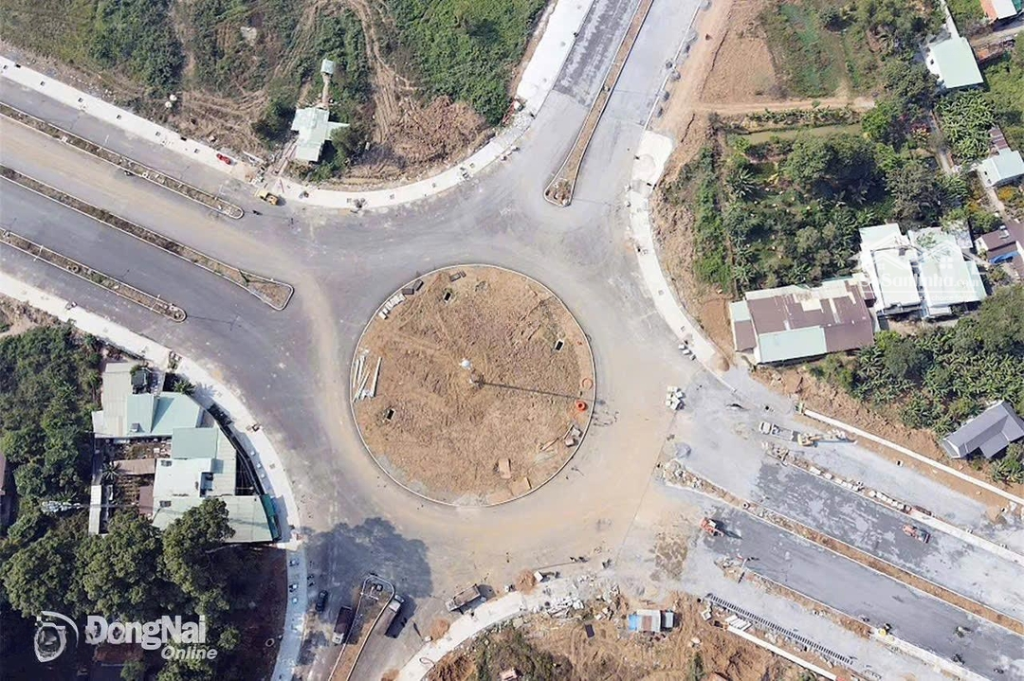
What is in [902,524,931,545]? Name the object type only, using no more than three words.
work vehicle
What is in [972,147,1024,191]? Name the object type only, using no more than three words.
house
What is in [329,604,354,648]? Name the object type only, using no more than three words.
truck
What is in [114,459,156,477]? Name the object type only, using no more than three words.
shed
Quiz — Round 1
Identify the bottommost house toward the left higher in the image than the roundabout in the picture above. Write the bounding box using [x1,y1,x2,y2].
[291,108,349,165]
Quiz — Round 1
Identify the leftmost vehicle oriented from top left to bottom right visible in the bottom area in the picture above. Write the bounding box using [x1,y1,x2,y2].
[697,514,725,539]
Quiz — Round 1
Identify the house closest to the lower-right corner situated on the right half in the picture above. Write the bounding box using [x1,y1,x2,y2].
[940,403,1024,459]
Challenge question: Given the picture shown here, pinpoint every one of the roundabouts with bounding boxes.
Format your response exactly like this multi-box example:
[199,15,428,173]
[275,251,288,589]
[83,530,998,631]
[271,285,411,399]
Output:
[283,201,665,581]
